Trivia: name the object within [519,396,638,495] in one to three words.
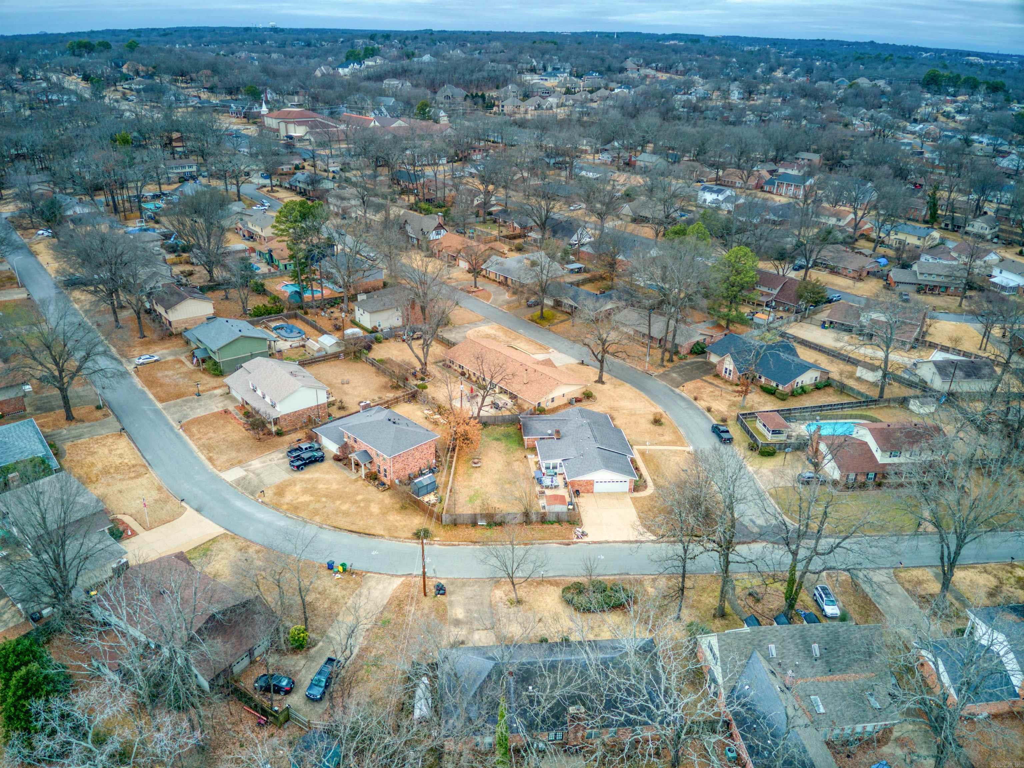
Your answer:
house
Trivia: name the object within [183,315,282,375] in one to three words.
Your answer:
building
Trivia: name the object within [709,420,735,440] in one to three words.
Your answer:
vehicle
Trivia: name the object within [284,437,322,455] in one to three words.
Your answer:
vehicle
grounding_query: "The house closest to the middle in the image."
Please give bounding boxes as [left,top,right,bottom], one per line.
[443,336,591,415]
